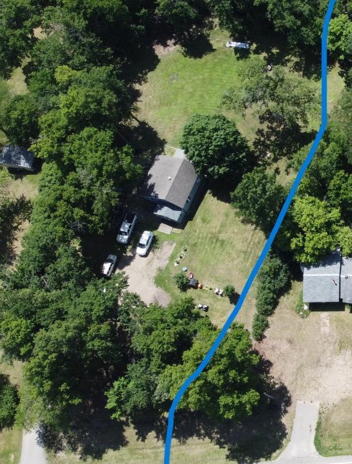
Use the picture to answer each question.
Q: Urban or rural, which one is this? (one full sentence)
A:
The land in this view is best described as rural.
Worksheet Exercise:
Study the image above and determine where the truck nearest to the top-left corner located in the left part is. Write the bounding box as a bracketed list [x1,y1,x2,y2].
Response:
[118,213,139,244]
